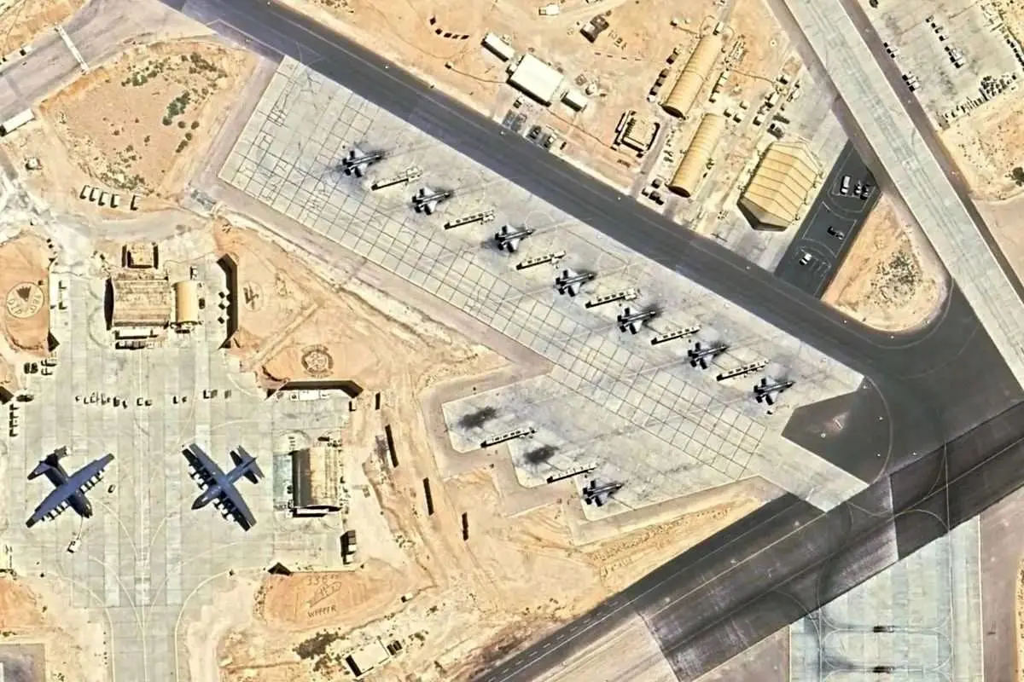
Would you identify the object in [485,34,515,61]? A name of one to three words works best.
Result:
building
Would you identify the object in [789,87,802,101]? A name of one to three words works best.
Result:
vehicle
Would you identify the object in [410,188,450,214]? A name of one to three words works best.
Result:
airplane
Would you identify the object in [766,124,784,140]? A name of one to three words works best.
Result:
vehicle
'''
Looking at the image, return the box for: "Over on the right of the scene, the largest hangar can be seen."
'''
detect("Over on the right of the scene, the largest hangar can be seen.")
[740,142,824,229]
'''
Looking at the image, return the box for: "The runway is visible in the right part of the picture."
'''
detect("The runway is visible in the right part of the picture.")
[471,400,1024,682]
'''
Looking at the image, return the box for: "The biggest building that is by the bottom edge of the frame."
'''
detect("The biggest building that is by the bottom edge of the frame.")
[350,640,389,674]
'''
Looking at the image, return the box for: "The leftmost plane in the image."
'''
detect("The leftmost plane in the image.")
[34,443,120,523]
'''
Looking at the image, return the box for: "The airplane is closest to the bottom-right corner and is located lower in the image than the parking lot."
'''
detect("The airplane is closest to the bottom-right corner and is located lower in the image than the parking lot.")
[752,378,791,405]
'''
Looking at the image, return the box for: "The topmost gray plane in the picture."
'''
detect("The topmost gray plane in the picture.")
[341,150,381,176]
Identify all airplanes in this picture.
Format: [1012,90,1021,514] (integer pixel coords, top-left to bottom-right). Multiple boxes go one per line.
[555,270,594,296]
[493,225,533,252]
[34,443,120,523]
[582,479,621,506]
[616,308,656,334]
[752,378,791,405]
[183,444,267,529]
[341,150,381,176]
[410,188,450,214]
[686,342,725,369]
